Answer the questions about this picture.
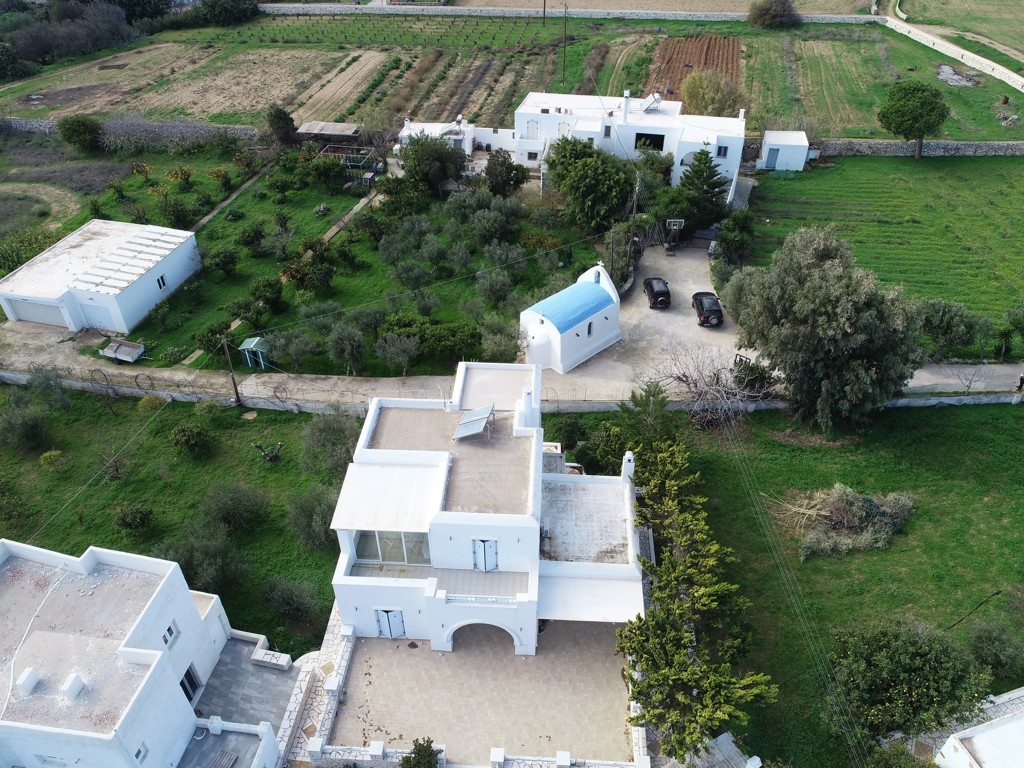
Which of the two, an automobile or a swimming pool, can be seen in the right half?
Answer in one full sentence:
You can see an automobile in the right half.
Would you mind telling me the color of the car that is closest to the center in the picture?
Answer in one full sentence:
In this view, the car that is closest to the center is black.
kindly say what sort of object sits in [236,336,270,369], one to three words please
shed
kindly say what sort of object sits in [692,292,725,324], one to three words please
car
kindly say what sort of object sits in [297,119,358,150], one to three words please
shed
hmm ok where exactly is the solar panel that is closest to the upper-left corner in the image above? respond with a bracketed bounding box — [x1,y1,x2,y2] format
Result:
[444,114,467,137]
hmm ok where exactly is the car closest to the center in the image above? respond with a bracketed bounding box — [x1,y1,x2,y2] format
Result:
[642,276,673,306]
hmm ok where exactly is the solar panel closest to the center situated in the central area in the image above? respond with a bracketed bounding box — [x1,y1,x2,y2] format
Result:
[452,400,496,445]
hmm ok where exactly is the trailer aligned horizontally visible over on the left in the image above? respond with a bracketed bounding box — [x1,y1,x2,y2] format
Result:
[95,340,153,366]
